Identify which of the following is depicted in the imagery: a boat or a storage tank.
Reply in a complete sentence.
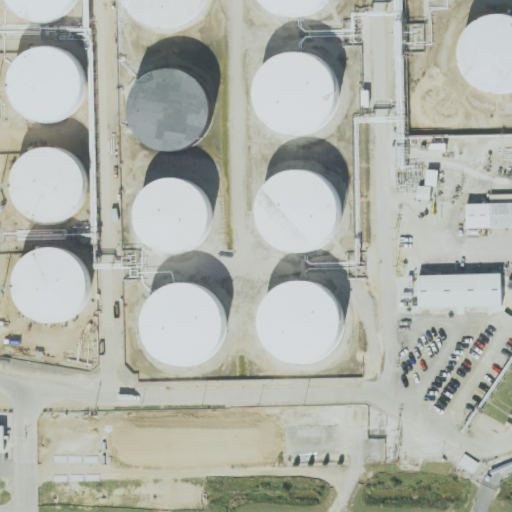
Visible in the photo is a storage tank.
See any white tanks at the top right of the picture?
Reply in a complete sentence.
Yes, a white tank can be seen at the top right of the picture.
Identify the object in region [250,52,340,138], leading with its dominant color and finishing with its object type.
white storage tank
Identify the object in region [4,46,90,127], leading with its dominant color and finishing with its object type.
white storage tank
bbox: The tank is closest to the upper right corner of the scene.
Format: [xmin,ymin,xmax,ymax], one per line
[454,10,512,98]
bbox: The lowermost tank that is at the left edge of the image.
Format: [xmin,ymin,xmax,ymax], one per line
[8,246,94,326]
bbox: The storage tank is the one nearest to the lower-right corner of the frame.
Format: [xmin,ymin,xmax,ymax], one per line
[254,280,346,366]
